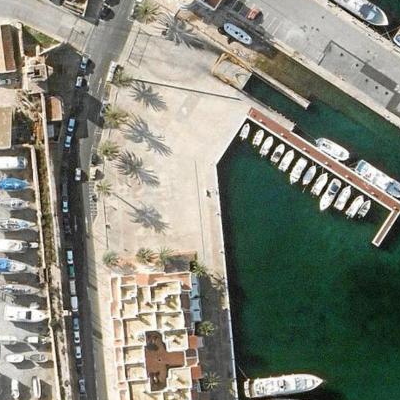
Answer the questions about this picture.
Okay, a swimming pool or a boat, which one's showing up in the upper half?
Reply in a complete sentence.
Visible in the upper half is a boat.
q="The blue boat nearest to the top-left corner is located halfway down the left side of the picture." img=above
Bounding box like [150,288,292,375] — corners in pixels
[0,175,29,192]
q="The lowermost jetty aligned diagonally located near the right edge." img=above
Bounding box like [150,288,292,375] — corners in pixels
[247,108,400,246]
